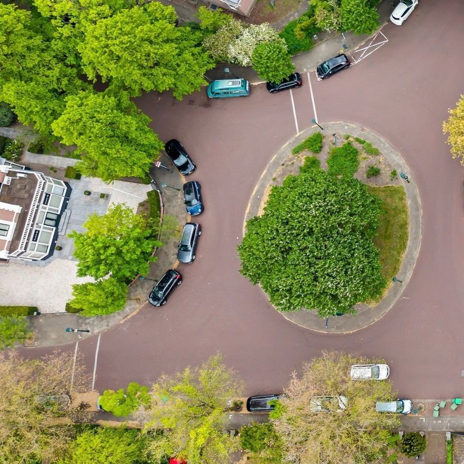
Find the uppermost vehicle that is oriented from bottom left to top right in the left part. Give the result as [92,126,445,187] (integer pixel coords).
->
[146,267,184,309]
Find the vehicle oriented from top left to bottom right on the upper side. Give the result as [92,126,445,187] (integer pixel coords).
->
[162,135,198,177]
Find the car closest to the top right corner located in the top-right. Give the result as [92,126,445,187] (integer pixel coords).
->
[389,0,419,28]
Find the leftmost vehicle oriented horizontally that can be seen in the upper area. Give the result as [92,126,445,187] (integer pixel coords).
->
[207,77,251,99]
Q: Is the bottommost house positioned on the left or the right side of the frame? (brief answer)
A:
left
